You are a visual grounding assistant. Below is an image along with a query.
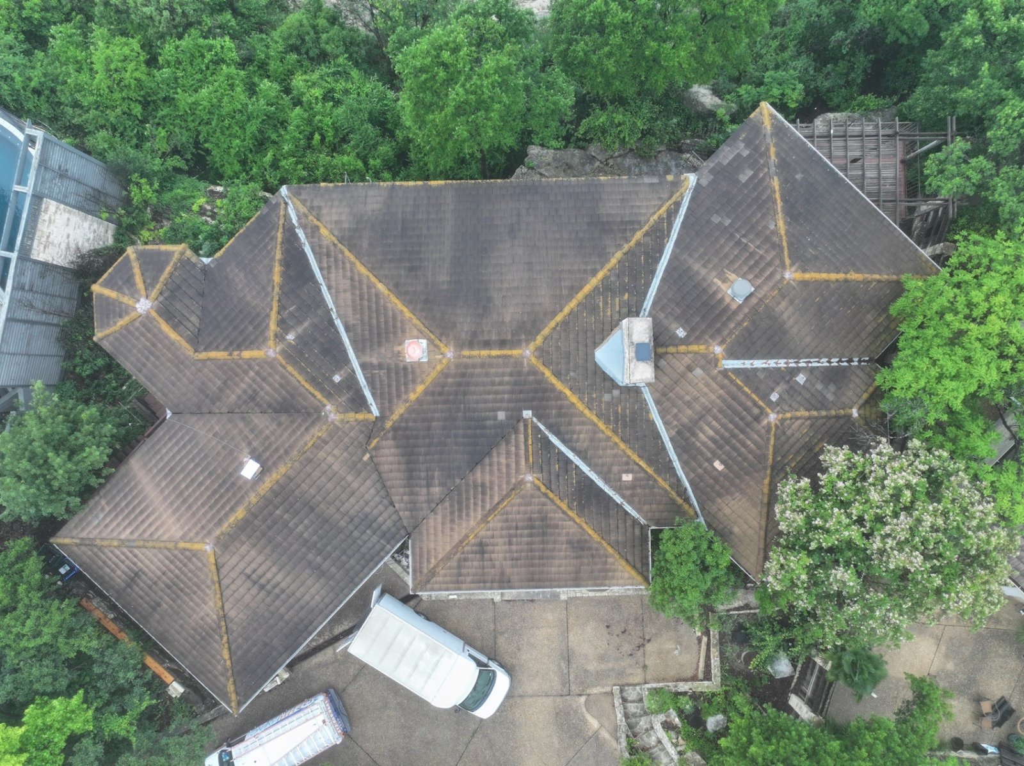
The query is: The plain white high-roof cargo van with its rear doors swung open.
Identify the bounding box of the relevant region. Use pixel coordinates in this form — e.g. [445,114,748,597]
[329,569,507,717]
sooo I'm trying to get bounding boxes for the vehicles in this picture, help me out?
[215,677,359,766]
[329,569,507,717]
